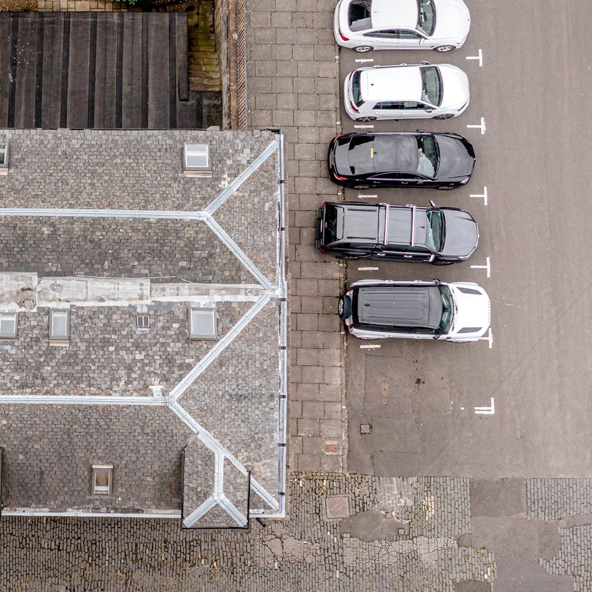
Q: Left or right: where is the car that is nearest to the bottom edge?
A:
right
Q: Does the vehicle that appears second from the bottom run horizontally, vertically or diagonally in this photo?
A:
horizontally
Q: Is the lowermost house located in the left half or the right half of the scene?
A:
left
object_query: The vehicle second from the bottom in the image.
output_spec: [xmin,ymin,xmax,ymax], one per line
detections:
[313,194,479,267]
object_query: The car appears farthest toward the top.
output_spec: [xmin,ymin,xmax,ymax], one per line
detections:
[334,0,469,55]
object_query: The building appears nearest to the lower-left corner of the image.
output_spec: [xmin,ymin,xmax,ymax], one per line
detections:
[0,127,289,529]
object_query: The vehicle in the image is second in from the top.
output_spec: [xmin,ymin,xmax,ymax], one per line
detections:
[343,56,468,122]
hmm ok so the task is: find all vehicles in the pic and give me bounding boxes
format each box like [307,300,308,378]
[313,194,479,267]
[334,0,469,55]
[339,273,493,346]
[329,125,472,192]
[343,56,468,122]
